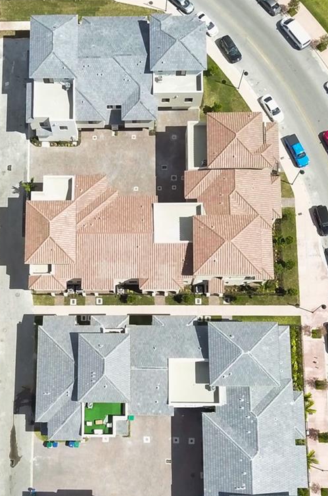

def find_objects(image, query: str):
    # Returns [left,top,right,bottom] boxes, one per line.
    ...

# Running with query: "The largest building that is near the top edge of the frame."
[25,13,208,146]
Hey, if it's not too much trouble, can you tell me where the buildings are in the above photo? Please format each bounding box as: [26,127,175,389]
[35,315,309,496]
[24,112,282,294]
[25,13,208,146]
